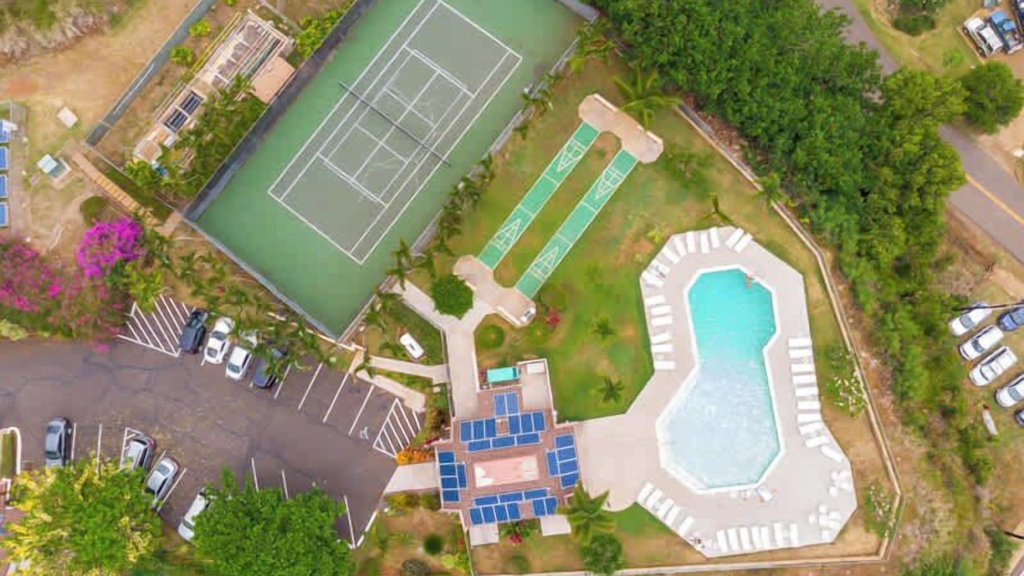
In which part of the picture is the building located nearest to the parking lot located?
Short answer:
bottom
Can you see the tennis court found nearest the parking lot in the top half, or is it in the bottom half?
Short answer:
top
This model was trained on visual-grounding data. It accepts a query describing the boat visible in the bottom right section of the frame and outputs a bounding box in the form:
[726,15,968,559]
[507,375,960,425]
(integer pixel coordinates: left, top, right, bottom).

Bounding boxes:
[985,406,997,435]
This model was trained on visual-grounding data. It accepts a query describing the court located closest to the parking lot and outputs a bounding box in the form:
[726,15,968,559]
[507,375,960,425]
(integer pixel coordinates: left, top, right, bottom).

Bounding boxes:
[198,0,584,335]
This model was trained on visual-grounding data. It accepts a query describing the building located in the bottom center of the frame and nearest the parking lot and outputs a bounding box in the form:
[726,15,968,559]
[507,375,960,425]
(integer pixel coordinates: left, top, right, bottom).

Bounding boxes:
[434,385,583,530]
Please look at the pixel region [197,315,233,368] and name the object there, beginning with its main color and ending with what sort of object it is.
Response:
white car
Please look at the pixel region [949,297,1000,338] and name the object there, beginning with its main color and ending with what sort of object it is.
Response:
white car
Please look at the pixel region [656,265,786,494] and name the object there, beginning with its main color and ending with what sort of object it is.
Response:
white swimming pool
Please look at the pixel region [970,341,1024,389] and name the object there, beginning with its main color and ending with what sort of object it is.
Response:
white vehicle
